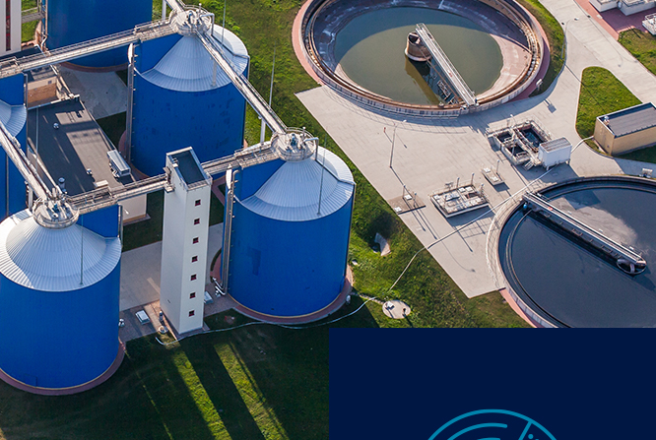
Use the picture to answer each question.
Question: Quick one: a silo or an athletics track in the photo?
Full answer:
The image shows a silo.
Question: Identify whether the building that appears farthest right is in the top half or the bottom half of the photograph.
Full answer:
The building that appears farthest right sits in the top half of the picture.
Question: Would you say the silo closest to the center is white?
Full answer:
No, the silo closest to the center is actually blue.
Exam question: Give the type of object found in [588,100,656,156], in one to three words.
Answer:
building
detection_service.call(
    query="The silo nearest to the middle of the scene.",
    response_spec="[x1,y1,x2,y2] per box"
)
[216,126,357,322]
